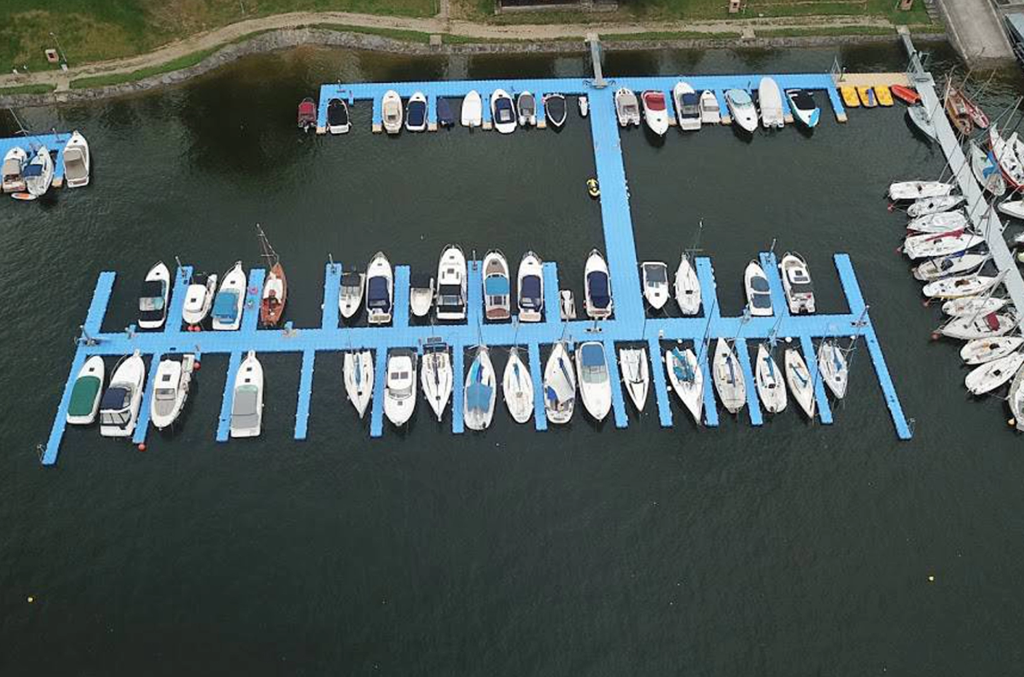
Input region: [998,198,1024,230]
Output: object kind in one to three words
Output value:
boat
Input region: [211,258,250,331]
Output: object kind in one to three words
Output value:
boat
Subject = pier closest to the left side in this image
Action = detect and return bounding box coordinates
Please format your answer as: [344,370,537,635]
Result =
[0,133,72,189]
